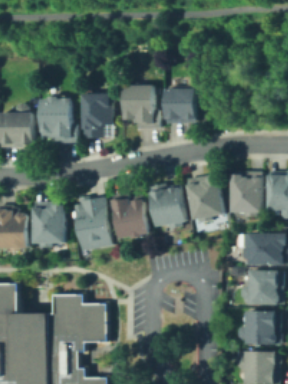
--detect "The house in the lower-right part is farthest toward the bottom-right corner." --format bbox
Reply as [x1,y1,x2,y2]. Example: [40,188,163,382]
[242,354,286,384]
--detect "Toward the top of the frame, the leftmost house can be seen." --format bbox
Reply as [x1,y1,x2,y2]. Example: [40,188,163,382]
[0,112,33,148]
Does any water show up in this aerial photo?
No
